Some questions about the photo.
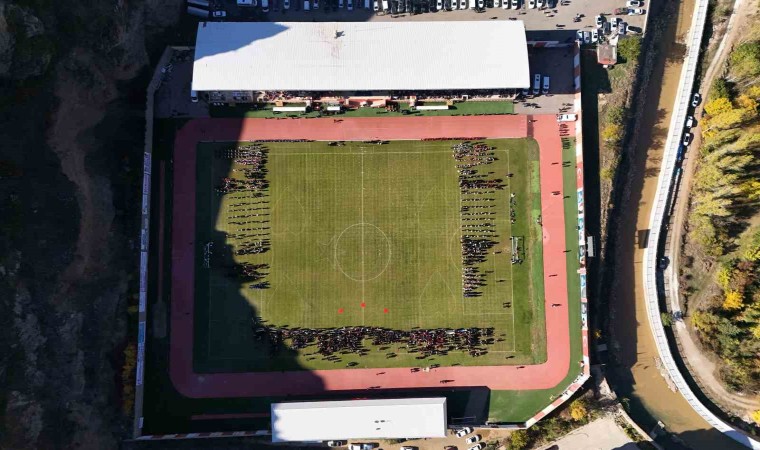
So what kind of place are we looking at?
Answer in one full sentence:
This image shows a sports ground.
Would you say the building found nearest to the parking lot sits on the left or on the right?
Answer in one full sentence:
You can find the building found nearest to the parking lot on the right side of the picture.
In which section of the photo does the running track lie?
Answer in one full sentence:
Look in the center portion of the view to spot the running track.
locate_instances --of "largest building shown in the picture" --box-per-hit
[597,42,622,65]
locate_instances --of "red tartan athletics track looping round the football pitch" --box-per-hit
[169,114,569,397]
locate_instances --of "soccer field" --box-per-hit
[193,138,546,373]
